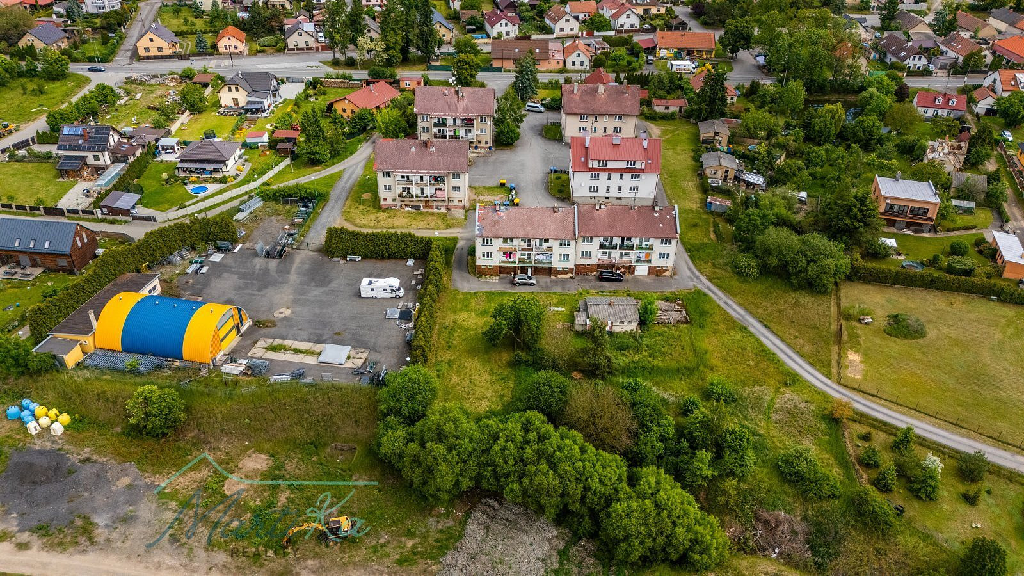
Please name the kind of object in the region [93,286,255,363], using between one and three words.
hangar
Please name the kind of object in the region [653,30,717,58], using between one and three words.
house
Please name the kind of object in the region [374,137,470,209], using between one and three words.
building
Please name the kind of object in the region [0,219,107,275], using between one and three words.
barn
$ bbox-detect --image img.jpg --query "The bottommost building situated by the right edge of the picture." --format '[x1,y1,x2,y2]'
[971,229,1024,280]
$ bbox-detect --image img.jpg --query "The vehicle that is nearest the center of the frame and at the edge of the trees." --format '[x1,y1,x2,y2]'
[511,274,537,287]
